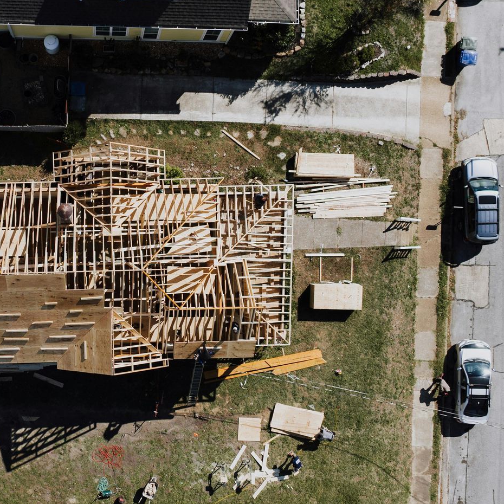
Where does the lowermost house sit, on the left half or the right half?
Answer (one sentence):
It is on the left.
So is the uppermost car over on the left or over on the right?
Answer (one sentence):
The uppermost car sits on the right side.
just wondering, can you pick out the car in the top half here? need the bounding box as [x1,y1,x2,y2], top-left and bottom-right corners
[453,156,503,244]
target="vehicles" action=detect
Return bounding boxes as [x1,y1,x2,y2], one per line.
[448,338,496,423]
[453,156,503,244]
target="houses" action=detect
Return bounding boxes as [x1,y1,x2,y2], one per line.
[0,142,295,376]
[0,0,301,47]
